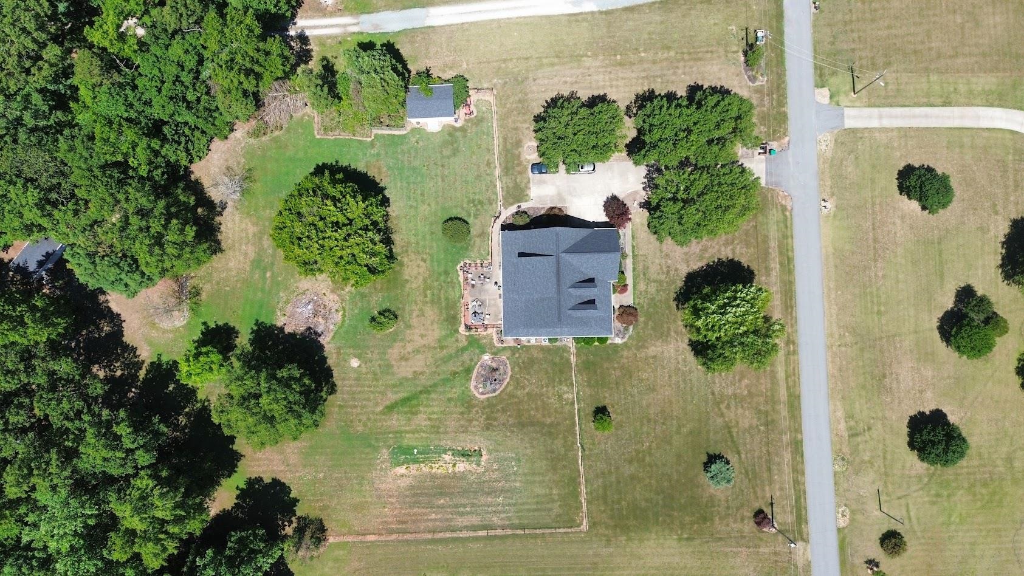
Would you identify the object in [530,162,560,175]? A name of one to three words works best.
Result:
vehicle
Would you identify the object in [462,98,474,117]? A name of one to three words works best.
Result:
vehicle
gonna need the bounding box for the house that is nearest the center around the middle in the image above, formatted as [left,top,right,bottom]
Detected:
[500,227,620,339]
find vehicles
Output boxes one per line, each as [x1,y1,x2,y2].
[530,162,560,175]
[462,98,474,117]
[568,163,596,175]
